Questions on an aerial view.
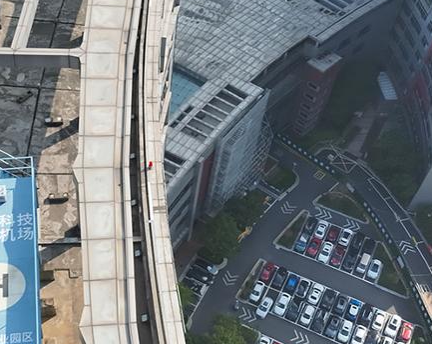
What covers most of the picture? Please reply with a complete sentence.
Most of the picture is covered by buildings.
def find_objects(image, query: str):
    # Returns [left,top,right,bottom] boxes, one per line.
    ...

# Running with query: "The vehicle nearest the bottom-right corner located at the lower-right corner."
[400,320,416,342]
